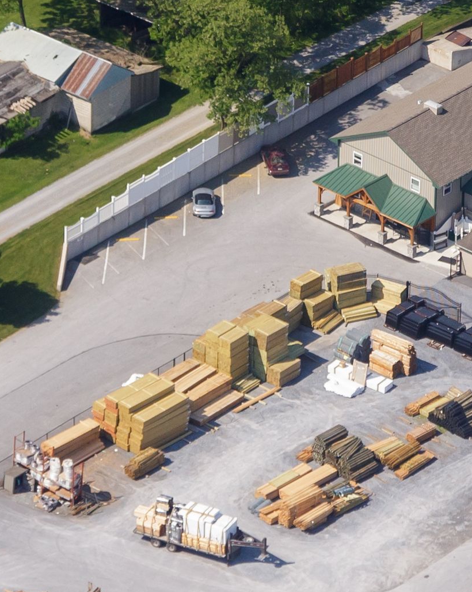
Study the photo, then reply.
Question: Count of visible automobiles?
2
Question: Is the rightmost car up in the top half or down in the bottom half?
top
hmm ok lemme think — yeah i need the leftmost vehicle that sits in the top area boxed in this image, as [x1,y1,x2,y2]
[191,188,216,218]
